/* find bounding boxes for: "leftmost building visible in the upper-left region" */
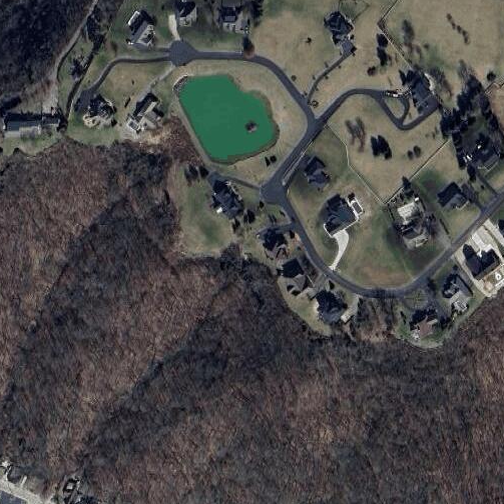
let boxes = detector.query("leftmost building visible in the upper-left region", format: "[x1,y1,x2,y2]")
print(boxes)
[5,111,62,132]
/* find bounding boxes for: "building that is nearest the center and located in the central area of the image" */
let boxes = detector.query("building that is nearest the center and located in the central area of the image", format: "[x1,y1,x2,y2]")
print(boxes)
[261,233,288,259]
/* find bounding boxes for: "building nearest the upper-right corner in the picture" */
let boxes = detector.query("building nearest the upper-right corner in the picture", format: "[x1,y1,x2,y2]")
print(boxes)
[403,68,441,113]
